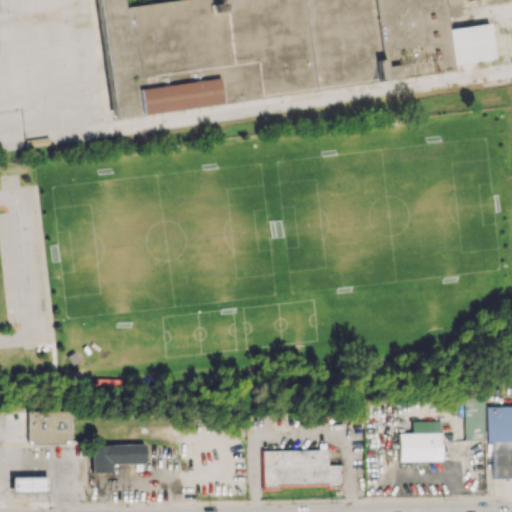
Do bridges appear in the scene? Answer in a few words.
No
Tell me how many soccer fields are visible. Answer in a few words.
4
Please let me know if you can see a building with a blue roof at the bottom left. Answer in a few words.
No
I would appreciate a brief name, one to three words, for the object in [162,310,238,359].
soccer field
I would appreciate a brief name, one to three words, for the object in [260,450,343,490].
building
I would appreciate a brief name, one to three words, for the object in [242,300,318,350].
soccer field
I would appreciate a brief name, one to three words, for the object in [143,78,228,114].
barn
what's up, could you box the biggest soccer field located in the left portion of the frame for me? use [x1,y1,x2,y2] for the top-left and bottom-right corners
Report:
[50,161,279,320]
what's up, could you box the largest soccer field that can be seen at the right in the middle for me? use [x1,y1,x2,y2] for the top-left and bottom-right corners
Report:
[274,136,503,296]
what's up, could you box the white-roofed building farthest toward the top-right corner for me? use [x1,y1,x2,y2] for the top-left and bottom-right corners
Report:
[452,22,499,66]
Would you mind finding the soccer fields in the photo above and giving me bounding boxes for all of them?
[242,300,318,350]
[274,136,503,296]
[162,310,238,359]
[50,161,279,320]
